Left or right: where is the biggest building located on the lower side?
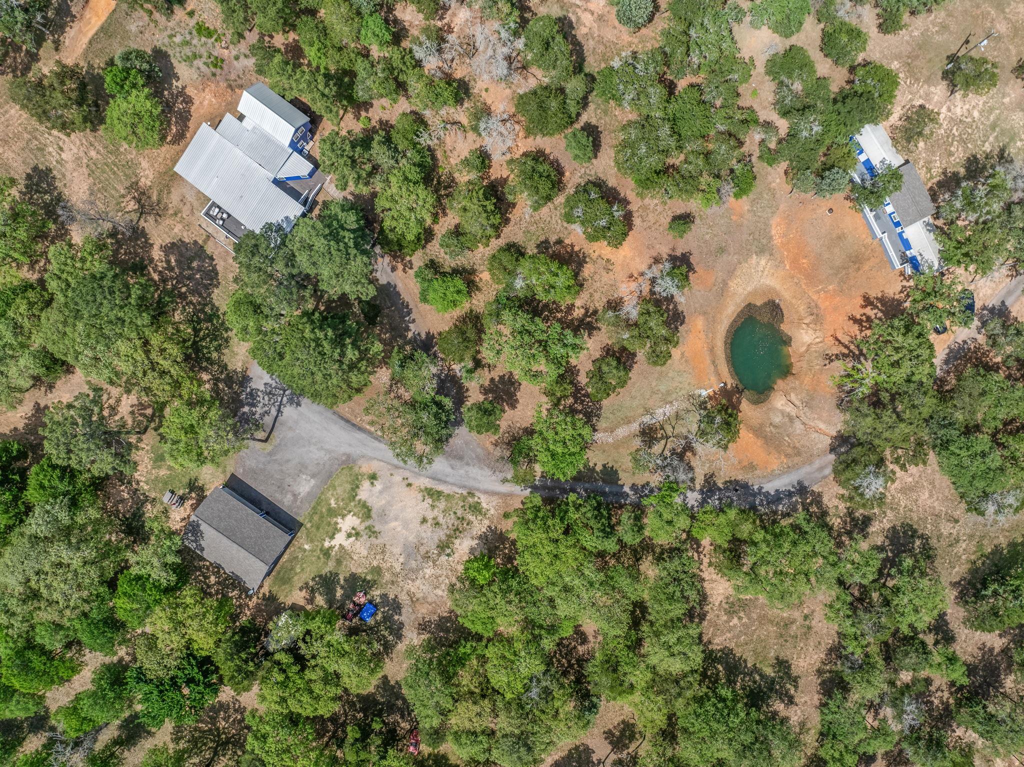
left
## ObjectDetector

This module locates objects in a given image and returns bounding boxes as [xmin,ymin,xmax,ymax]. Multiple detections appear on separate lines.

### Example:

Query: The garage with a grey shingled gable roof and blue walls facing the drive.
[180,484,295,591]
